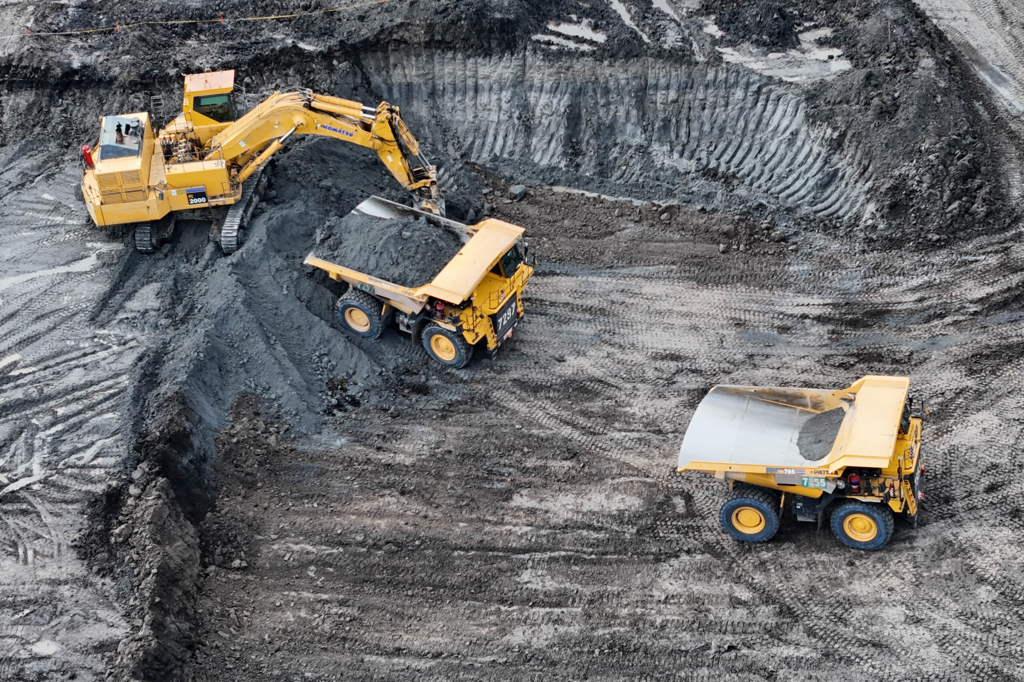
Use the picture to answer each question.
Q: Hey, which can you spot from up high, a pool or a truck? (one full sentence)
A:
It is a truck that can be seen here.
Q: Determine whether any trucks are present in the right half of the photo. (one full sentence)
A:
Yes, there is a truck in the right half of the photo.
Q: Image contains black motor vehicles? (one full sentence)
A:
No, the frame has no black motor vehicle in it.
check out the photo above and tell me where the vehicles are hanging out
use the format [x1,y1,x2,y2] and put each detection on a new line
[81,66,446,250]
[680,376,929,550]
[304,199,541,368]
